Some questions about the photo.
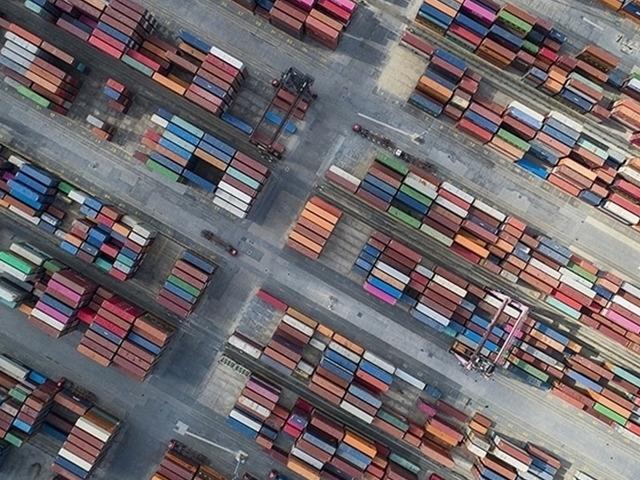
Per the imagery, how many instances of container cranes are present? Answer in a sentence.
There are 2 container cranes in the image.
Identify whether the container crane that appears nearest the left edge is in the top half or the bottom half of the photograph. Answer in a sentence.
The top half of the photo is where the container crane that appears nearest the left edge is.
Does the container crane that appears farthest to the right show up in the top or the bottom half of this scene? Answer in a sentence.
It is in the bottom half that the container crane that appears farthest to the right appears.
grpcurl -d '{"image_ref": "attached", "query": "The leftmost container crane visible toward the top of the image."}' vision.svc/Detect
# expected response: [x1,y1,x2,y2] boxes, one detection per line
[246,63,319,161]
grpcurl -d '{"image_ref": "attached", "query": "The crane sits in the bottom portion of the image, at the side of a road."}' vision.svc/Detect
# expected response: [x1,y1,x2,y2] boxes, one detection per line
[448,283,531,377]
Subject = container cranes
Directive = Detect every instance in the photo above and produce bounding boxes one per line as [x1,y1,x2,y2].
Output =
[448,283,531,377]
[246,63,319,161]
